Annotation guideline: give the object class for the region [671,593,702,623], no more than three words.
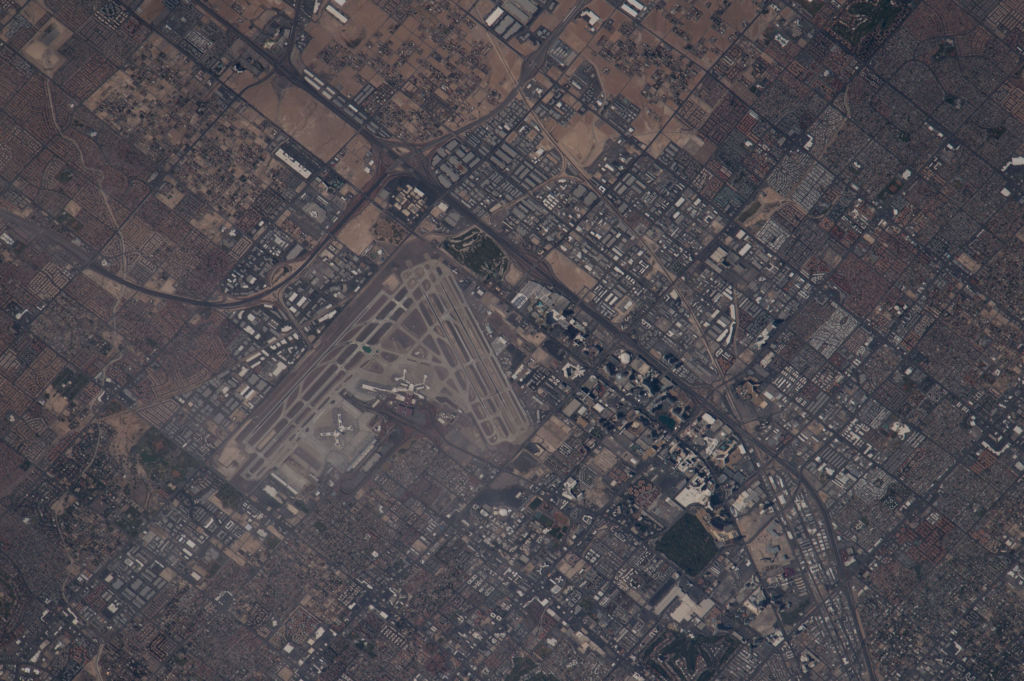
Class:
building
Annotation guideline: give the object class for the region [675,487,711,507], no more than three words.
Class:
building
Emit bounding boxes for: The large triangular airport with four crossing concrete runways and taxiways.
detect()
[206,235,537,496]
